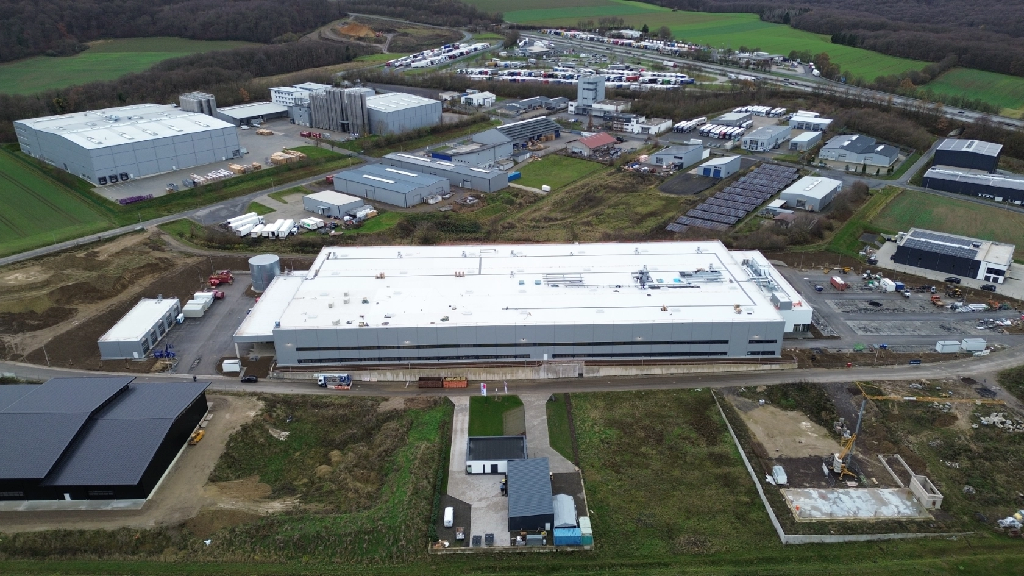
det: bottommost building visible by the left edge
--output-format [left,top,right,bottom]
[0,376,212,503]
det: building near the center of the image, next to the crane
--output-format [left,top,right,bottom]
[234,238,813,366]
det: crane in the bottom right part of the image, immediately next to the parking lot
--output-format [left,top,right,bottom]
[827,382,1007,485]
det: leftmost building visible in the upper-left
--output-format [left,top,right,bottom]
[0,109,240,186]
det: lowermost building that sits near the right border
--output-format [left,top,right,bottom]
[891,227,1018,284]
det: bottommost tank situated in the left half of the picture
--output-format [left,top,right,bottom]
[247,251,282,290]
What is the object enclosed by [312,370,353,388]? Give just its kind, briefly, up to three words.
vehicle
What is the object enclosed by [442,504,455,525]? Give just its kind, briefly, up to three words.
vehicle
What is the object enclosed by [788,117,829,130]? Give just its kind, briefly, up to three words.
building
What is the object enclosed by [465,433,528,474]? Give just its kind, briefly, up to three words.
house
